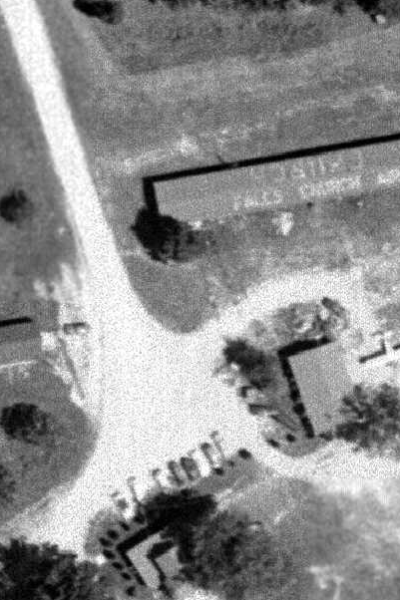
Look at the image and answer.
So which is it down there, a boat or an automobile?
automobile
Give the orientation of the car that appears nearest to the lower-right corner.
diagonally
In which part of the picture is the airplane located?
right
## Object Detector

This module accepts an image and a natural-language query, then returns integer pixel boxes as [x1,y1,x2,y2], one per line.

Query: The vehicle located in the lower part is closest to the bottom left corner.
[114,490,134,518]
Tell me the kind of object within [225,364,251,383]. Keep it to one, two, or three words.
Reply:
car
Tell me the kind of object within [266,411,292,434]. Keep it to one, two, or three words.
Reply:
car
